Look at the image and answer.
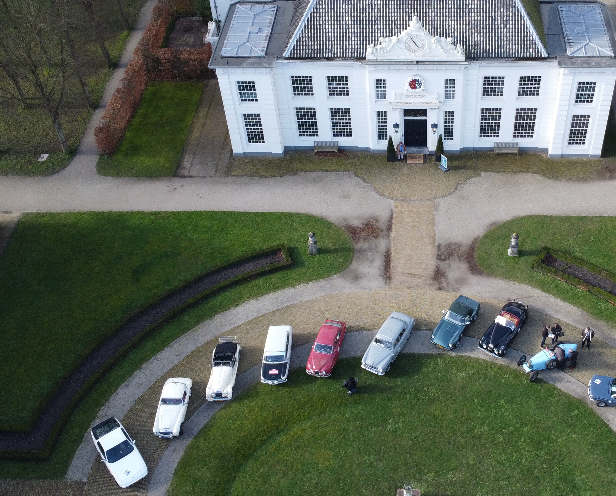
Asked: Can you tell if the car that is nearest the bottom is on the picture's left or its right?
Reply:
left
